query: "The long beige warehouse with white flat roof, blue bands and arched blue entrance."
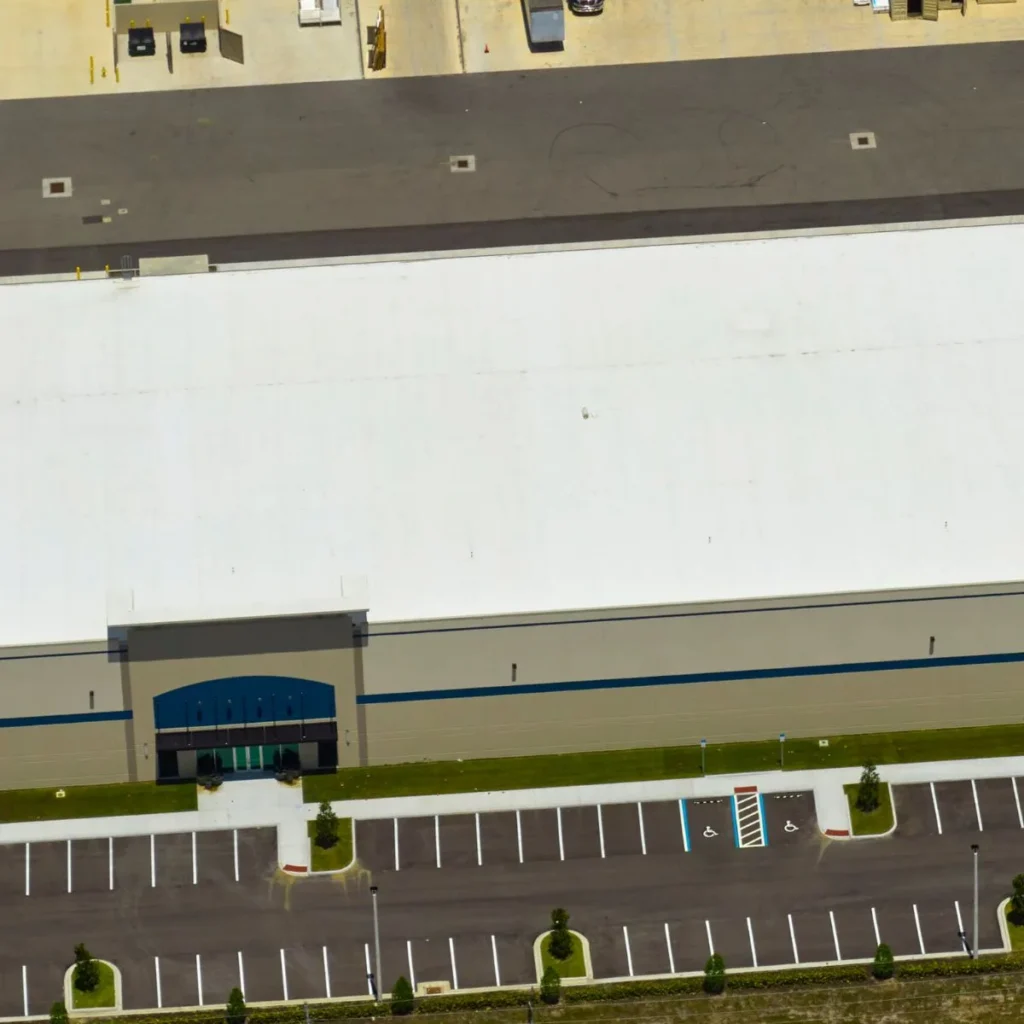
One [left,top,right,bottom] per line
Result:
[0,224,1024,790]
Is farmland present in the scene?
No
